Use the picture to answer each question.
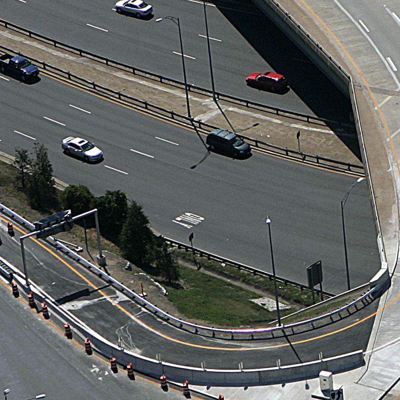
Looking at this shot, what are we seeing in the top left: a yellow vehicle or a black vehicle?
black vehicle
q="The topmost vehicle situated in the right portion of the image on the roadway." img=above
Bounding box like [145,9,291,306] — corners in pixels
[242,69,292,92]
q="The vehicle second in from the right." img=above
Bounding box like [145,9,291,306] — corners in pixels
[201,123,255,156]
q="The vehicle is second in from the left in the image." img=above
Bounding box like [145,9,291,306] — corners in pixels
[59,135,106,162]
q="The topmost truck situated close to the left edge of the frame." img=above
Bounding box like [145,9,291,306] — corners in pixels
[0,52,44,82]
